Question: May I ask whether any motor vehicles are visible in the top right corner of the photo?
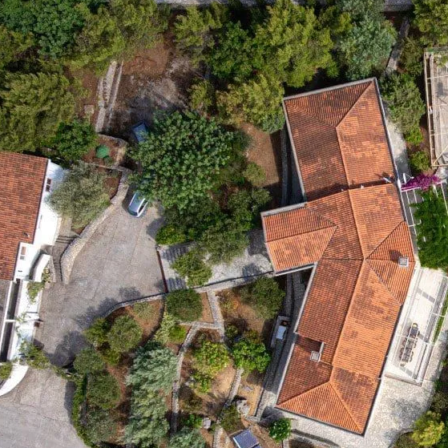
No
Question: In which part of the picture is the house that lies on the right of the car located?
right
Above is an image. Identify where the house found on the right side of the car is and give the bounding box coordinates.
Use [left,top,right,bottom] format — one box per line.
[260,77,415,434]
